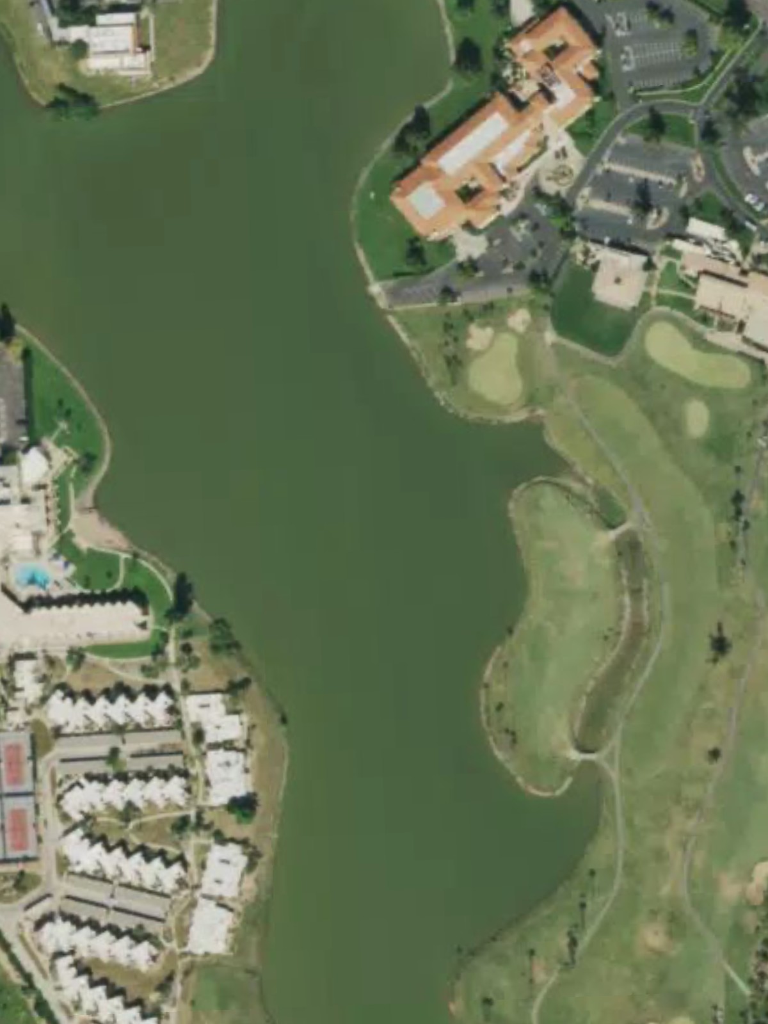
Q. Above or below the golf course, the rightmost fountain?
above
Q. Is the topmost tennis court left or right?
left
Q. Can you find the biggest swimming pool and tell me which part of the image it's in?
left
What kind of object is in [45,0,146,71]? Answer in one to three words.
house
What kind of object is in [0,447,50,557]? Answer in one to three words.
building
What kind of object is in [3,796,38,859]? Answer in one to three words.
tennis court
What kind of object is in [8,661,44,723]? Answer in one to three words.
house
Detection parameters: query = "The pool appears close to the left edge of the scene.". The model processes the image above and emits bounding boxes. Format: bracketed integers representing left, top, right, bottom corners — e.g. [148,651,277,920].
[12,560,54,590]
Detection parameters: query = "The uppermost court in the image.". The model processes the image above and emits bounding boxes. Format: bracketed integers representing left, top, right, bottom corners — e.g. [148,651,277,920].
[0,732,35,794]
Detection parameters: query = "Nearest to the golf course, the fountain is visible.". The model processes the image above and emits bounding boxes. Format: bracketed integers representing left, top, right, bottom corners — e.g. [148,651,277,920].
[553,163,573,183]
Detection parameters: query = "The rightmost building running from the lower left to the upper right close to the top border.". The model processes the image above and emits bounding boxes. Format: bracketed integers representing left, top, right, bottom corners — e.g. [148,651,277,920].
[391,6,603,242]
